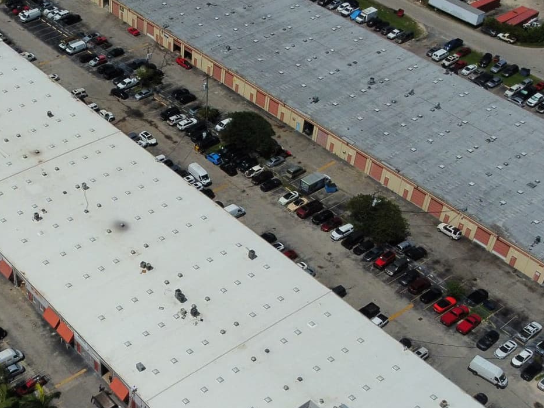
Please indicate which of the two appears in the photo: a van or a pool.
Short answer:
van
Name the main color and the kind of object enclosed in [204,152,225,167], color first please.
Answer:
blue car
